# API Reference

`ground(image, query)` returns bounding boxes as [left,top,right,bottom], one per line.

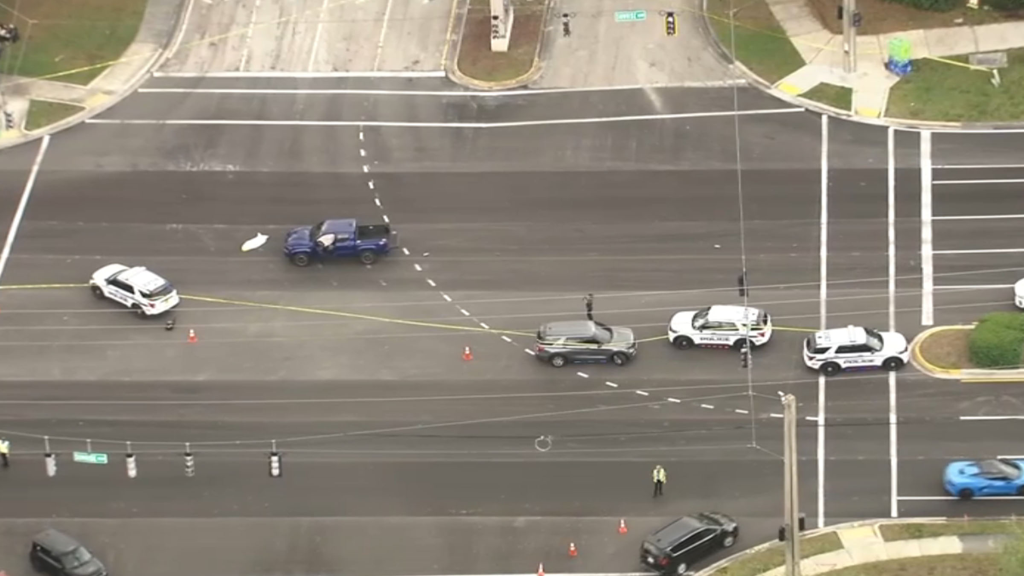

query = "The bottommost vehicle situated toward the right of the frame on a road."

[640,511,739,575]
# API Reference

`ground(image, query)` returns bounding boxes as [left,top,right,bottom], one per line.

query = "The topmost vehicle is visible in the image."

[279,219,400,267]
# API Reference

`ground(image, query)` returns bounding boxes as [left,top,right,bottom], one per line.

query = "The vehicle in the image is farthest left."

[31,527,115,576]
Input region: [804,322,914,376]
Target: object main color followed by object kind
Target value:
white car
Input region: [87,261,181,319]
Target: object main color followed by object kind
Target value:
white car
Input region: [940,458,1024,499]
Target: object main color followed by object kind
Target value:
blue car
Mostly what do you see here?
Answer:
paved ground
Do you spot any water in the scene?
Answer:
No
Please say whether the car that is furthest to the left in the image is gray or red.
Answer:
gray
